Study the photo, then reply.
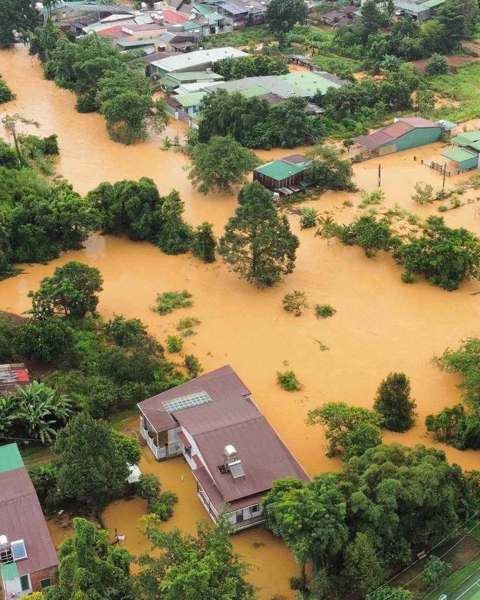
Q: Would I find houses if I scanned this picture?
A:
Yes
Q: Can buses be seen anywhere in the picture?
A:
No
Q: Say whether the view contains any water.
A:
Yes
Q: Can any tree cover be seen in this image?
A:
Yes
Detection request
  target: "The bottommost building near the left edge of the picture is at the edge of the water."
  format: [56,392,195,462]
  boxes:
[0,444,65,600]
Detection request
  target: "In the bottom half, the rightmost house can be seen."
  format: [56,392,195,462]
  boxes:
[139,365,313,526]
